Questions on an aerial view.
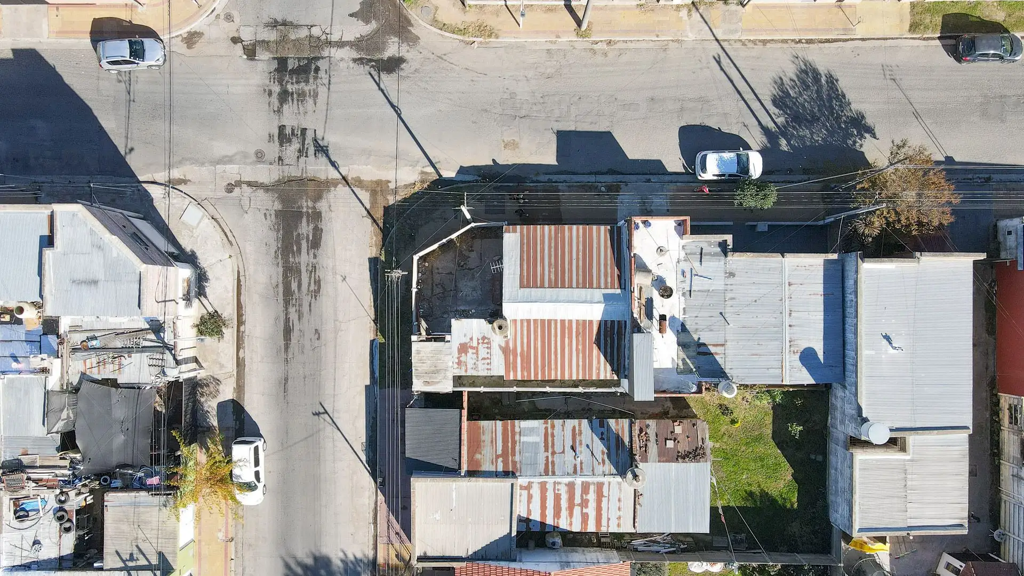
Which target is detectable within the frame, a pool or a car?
car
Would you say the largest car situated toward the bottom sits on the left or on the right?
left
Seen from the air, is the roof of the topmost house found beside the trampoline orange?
No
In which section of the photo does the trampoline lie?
bottom right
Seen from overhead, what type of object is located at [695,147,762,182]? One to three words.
car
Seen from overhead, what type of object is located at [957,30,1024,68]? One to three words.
car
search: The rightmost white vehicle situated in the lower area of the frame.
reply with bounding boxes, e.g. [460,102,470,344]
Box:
[230,432,270,503]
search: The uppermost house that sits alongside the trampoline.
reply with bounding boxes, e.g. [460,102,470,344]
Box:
[824,254,985,536]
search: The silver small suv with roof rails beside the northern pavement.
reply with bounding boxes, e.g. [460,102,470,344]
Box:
[89,34,163,72]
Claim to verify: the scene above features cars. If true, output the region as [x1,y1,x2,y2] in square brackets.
[230,432,270,503]
[695,147,762,182]
[89,34,163,72]
[957,30,1024,68]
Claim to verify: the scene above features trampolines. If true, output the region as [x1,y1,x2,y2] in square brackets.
[852,551,897,576]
